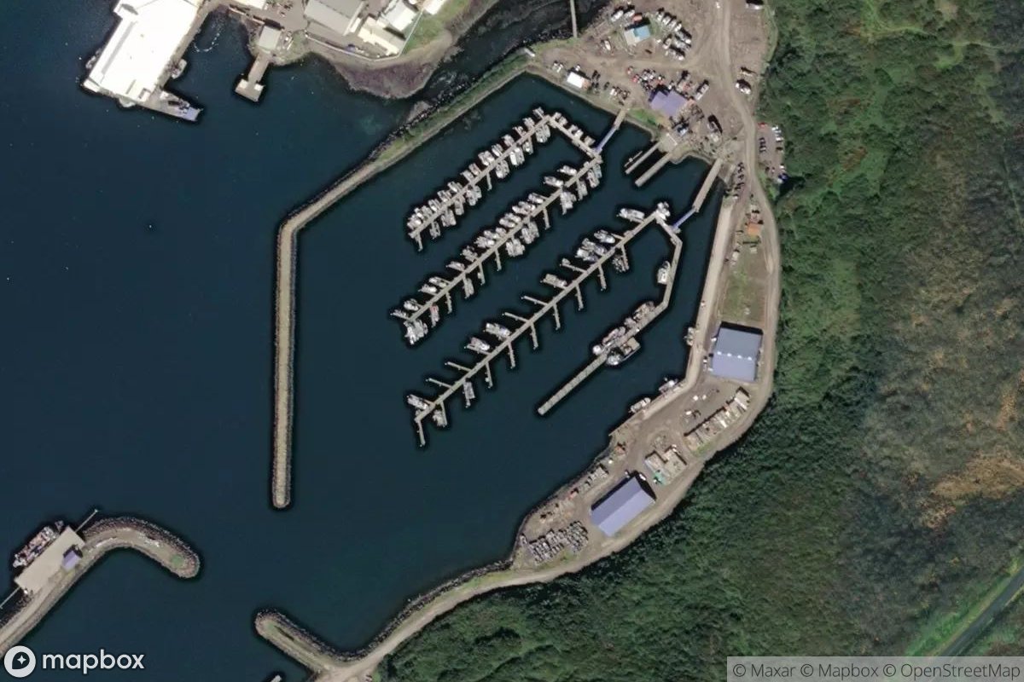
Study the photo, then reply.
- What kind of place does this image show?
port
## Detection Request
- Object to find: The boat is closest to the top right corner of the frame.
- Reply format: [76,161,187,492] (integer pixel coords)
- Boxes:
[732,79,749,94]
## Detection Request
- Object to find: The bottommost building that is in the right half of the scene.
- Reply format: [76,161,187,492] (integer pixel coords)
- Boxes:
[592,477,655,538]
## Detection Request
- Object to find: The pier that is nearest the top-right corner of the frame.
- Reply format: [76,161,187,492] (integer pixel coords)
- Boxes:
[692,156,728,210]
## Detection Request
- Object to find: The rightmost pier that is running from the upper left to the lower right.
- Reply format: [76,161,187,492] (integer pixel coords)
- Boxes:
[547,115,600,160]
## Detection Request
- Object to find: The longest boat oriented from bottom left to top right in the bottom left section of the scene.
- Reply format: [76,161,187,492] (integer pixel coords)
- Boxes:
[19,526,57,565]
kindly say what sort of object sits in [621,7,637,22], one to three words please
boat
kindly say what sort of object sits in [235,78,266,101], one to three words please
pier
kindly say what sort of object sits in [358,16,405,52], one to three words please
building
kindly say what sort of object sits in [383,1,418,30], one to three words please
building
